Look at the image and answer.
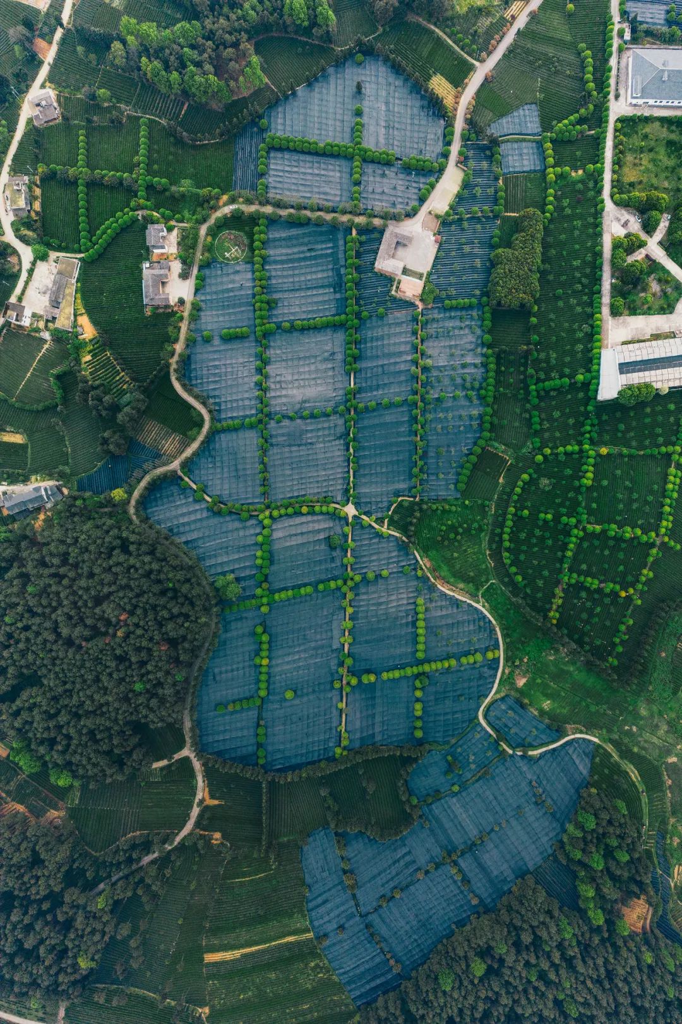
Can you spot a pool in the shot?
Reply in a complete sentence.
No, I can't see a single pool in this photo.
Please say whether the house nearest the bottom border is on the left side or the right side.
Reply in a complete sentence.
The house nearest the bottom border is on the left side of the image.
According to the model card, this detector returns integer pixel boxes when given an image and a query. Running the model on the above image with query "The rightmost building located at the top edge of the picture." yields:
[627,48,682,106]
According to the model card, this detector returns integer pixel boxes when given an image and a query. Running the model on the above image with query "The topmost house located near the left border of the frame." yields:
[29,92,59,127]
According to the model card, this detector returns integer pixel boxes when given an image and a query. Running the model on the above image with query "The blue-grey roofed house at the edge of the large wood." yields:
[0,485,65,518]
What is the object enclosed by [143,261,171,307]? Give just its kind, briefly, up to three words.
house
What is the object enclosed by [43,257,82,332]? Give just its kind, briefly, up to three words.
house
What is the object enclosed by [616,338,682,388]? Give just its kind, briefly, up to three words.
shed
